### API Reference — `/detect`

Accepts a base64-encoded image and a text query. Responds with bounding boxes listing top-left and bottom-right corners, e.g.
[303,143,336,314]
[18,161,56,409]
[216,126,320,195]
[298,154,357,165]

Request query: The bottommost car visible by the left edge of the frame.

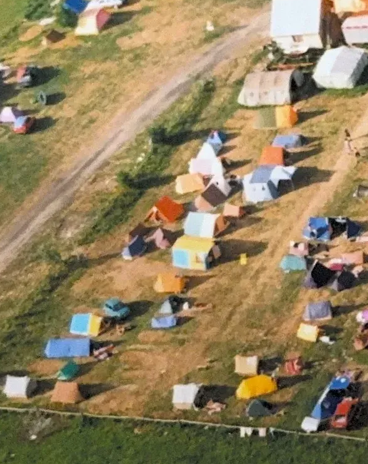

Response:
[9,108,37,133]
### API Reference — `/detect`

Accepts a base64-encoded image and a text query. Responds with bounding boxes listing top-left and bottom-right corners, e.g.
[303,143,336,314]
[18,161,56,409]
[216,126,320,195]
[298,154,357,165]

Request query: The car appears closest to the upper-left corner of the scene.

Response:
[16,57,34,87]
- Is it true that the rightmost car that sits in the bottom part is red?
Yes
